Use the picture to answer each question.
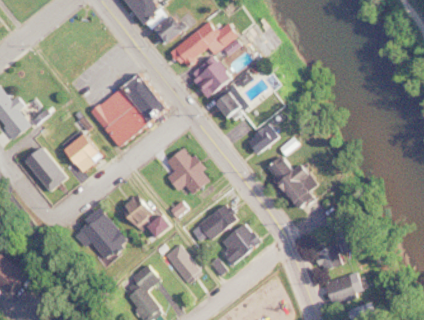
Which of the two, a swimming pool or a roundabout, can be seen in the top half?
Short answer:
swimming pool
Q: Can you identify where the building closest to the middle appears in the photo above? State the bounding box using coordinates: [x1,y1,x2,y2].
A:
[166,148,212,194]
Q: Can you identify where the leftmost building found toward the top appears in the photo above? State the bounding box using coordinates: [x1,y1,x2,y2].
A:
[0,86,32,138]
